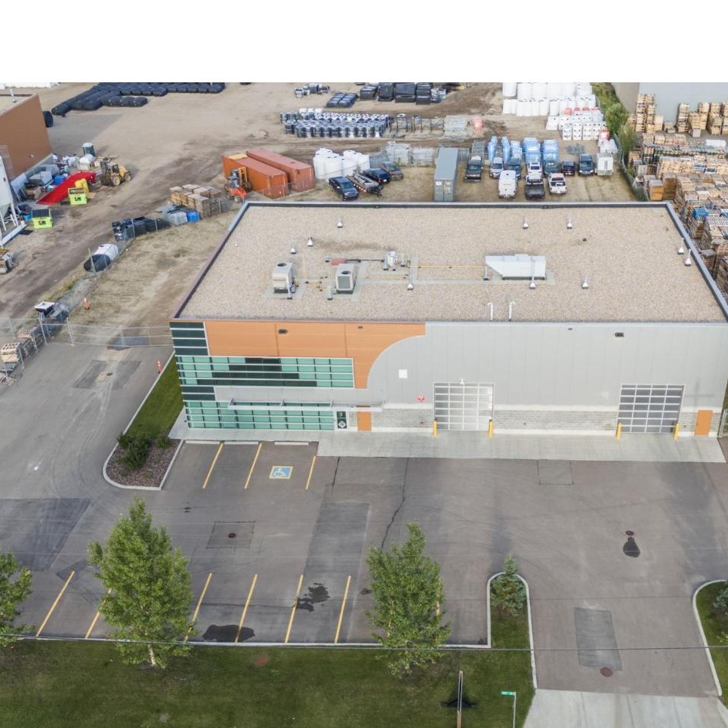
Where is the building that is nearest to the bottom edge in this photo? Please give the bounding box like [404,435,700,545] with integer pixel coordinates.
[168,202,728,437]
